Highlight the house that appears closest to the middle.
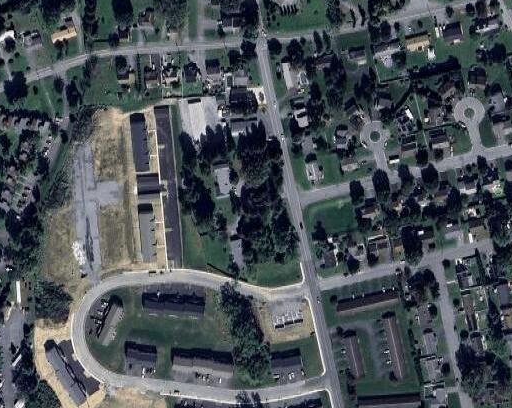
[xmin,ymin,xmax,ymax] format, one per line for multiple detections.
[214,167,231,195]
